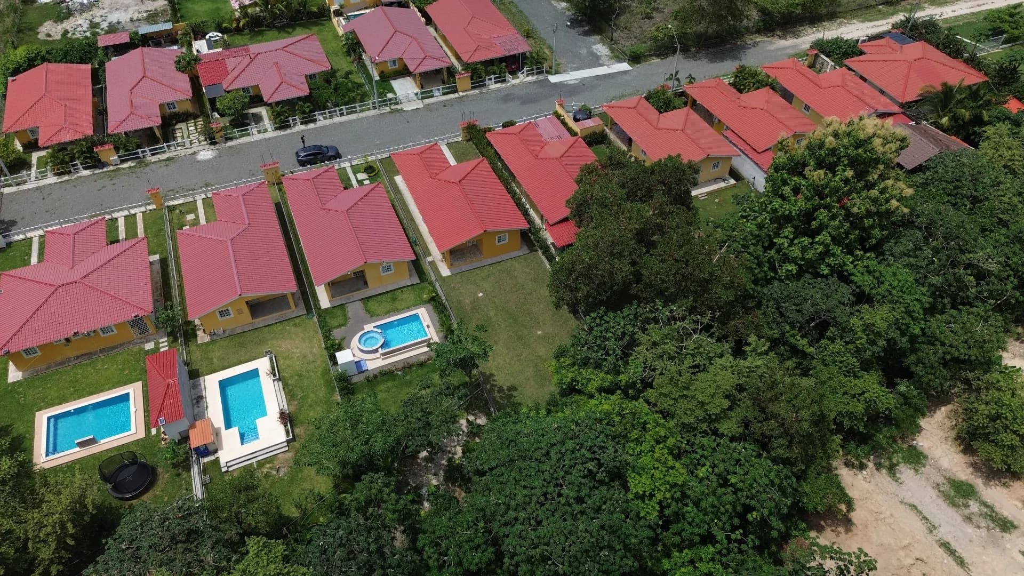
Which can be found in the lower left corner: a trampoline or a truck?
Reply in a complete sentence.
There is a trampoline in the lower left corner.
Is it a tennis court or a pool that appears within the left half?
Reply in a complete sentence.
What appears within the left half is a pool.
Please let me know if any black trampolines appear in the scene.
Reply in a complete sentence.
Yes, the photo shows a black trampoline.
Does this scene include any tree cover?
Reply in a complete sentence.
Yes, the picture does contain tree cover.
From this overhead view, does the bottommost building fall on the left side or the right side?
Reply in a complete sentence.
The bottommost building appears in the left half of the scene.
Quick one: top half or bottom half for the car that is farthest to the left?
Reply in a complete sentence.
The car that is farthest to the left is in the top half of the image.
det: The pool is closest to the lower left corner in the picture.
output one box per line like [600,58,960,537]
[32,381,145,473]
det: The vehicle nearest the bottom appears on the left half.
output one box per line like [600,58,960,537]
[295,140,340,163]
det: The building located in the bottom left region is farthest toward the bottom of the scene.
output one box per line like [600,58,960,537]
[187,415,217,462]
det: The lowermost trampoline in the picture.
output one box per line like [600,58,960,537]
[92,452,158,508]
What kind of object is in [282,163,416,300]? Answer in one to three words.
house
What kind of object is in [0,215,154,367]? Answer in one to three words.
house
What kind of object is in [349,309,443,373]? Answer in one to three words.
swimming pool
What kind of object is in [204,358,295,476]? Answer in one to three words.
swimming pool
